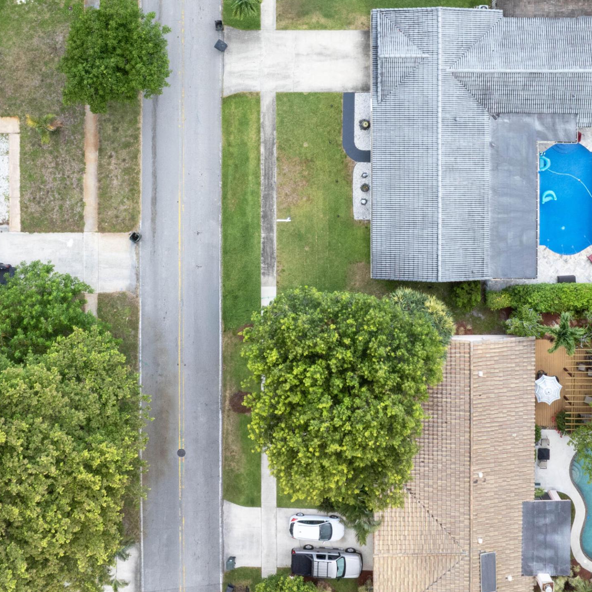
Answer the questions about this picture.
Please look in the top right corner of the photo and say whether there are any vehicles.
No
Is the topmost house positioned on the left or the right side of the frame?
right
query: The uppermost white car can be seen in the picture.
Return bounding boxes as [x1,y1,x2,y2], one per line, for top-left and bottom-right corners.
[290,510,345,544]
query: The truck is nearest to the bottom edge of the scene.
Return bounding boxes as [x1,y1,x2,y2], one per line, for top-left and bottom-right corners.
[291,544,363,580]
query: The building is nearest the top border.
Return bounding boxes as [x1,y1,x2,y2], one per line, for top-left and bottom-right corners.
[370,6,592,283]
